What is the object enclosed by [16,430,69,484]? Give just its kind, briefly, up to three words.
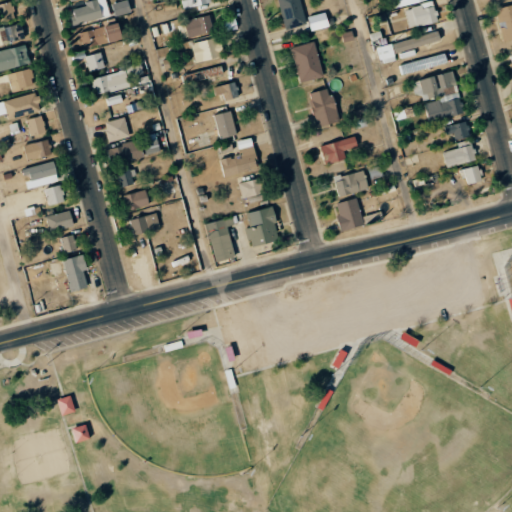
sports court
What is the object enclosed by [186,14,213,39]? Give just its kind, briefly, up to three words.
house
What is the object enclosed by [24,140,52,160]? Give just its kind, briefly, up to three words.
house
